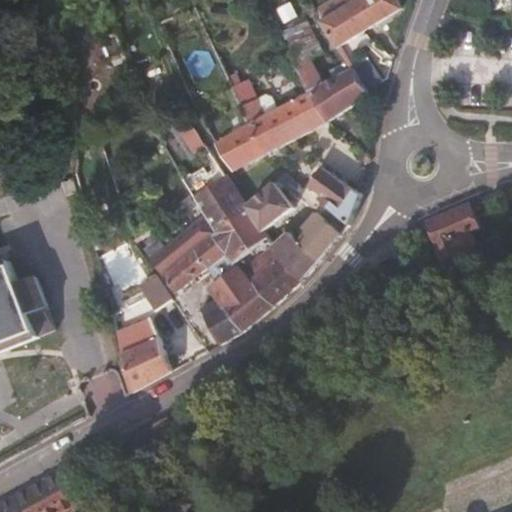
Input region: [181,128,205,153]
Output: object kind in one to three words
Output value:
shed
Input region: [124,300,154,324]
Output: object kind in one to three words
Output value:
building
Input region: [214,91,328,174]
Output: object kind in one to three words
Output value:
house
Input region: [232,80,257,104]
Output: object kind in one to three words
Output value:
shed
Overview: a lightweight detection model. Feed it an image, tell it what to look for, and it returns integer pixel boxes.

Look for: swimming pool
[186,50,215,78]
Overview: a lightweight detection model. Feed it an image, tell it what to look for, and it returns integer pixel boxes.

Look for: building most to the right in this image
[424,201,485,252]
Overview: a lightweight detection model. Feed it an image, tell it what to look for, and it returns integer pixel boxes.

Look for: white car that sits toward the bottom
[52,434,72,449]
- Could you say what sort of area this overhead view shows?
residential area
